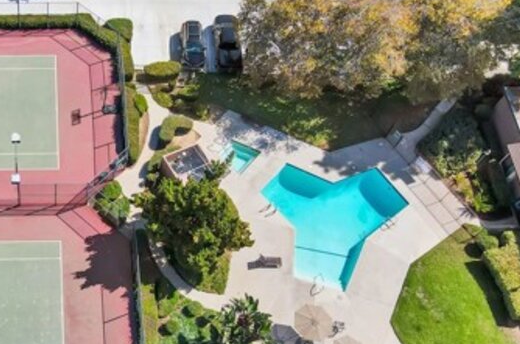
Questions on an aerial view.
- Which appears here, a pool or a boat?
pool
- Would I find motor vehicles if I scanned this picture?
Yes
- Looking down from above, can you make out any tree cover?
Yes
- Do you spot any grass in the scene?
Yes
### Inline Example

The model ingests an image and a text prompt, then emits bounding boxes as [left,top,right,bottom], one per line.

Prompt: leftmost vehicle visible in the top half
[179,19,209,71]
